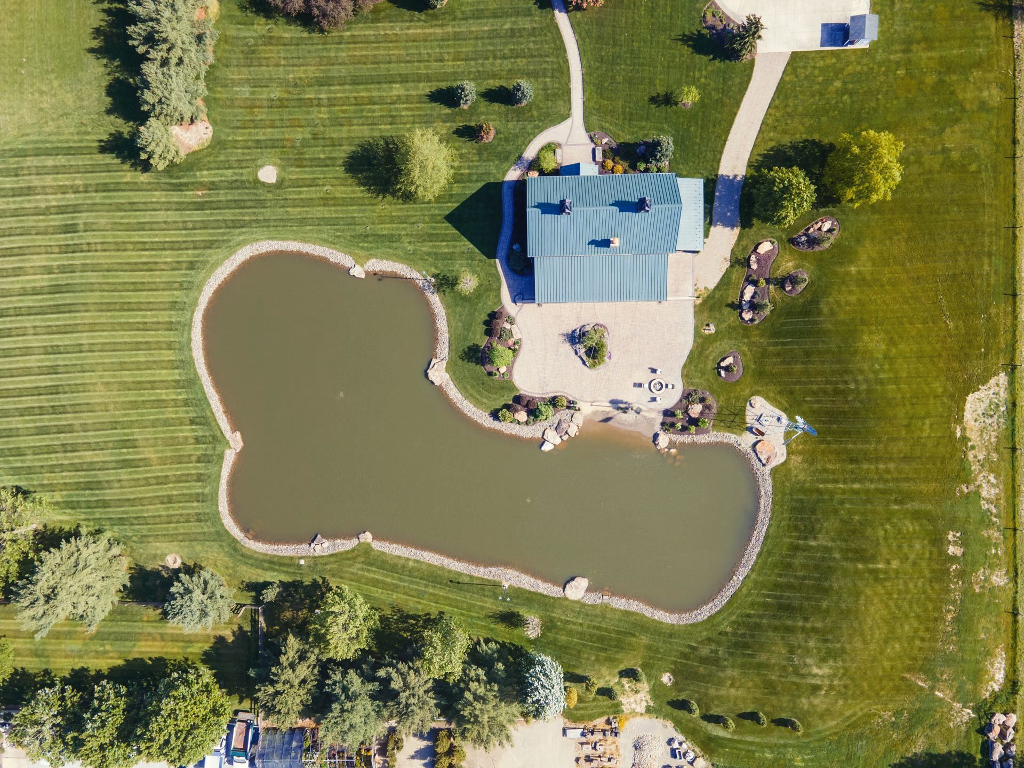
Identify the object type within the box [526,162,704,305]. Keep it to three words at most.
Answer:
house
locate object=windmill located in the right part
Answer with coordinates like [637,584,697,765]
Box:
[753,407,820,447]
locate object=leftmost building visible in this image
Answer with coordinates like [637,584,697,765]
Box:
[249,727,304,768]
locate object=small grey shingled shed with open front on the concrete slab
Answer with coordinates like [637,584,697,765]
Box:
[846,11,880,46]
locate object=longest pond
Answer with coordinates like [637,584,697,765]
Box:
[209,258,753,605]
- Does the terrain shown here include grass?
Yes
